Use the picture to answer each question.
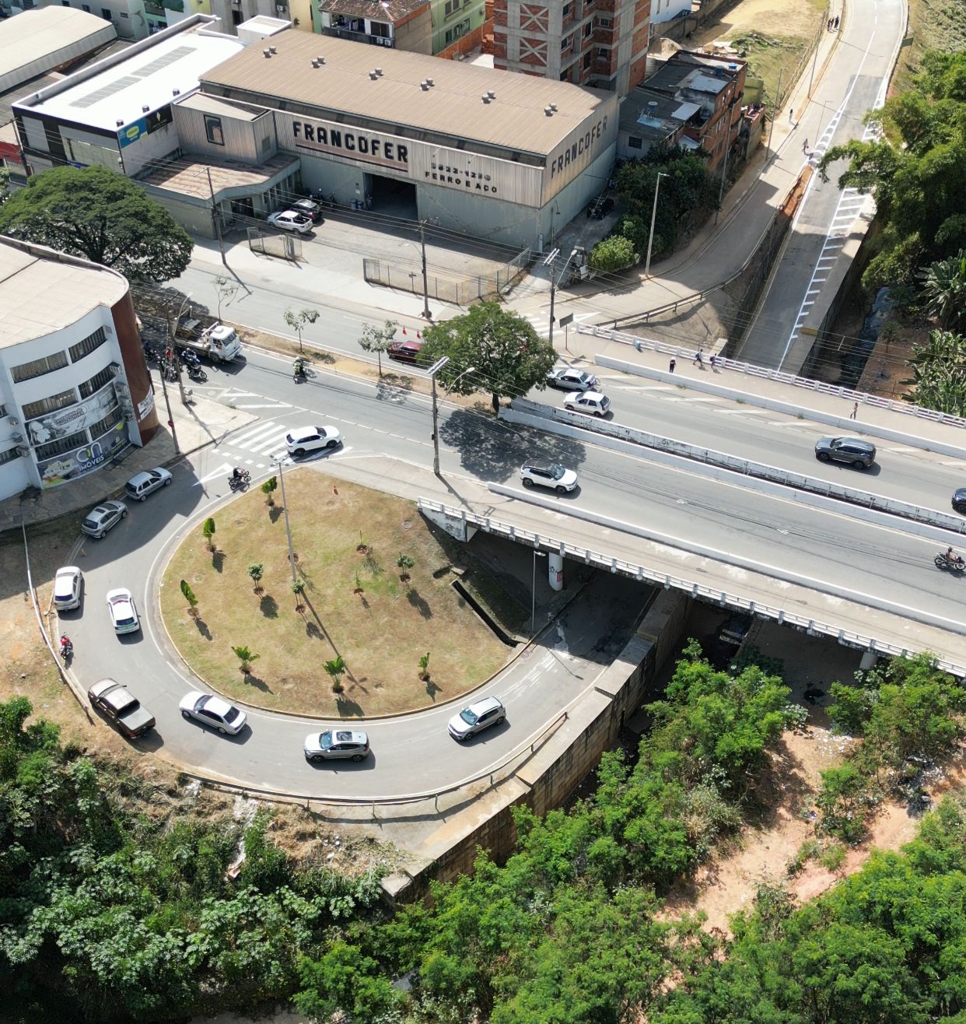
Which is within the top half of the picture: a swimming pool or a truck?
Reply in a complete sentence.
There is a truck within the top half of the picture.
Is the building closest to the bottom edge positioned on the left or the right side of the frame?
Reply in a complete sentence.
The building closest to the bottom edge sits on the left side.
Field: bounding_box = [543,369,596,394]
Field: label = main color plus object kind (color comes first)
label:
gray car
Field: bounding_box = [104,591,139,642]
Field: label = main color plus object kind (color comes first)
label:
white car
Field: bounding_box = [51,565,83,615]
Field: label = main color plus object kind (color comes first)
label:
white car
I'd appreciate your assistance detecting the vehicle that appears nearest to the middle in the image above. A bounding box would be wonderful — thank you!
[517,459,579,495]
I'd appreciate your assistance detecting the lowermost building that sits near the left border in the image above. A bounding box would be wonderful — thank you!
[0,234,160,498]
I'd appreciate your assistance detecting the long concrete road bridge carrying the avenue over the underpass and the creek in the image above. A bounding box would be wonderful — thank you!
[414,326,966,707]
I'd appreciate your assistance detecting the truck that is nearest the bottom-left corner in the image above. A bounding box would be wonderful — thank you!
[88,679,155,745]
